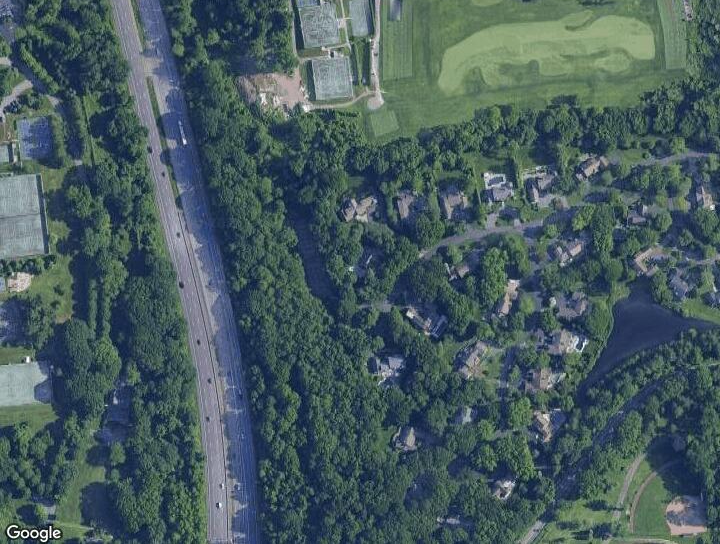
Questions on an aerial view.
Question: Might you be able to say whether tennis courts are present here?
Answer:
Yes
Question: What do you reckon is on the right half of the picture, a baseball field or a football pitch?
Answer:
baseball field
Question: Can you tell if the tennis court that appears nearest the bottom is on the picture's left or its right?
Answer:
left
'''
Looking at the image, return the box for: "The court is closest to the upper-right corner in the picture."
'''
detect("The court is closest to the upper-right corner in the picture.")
[350,0,373,37]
